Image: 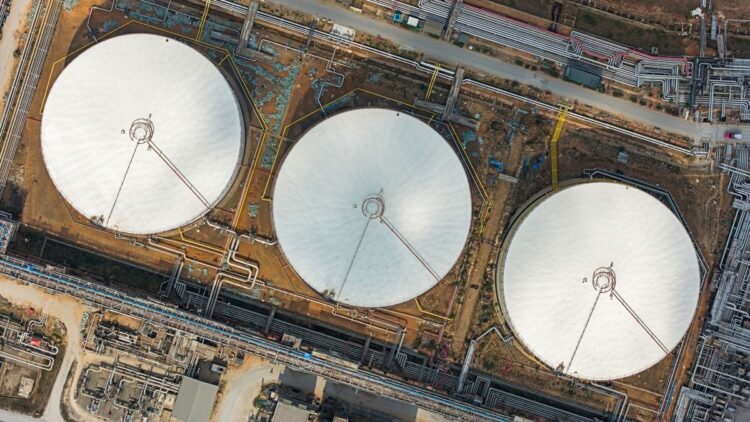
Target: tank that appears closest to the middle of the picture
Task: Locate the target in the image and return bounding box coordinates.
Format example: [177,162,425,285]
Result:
[271,107,473,313]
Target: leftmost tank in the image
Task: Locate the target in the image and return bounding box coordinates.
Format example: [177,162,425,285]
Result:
[40,31,255,238]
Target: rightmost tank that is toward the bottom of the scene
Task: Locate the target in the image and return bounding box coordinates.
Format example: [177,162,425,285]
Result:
[492,181,701,392]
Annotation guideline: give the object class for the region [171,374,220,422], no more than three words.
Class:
building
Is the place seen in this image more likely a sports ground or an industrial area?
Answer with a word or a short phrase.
industrial area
